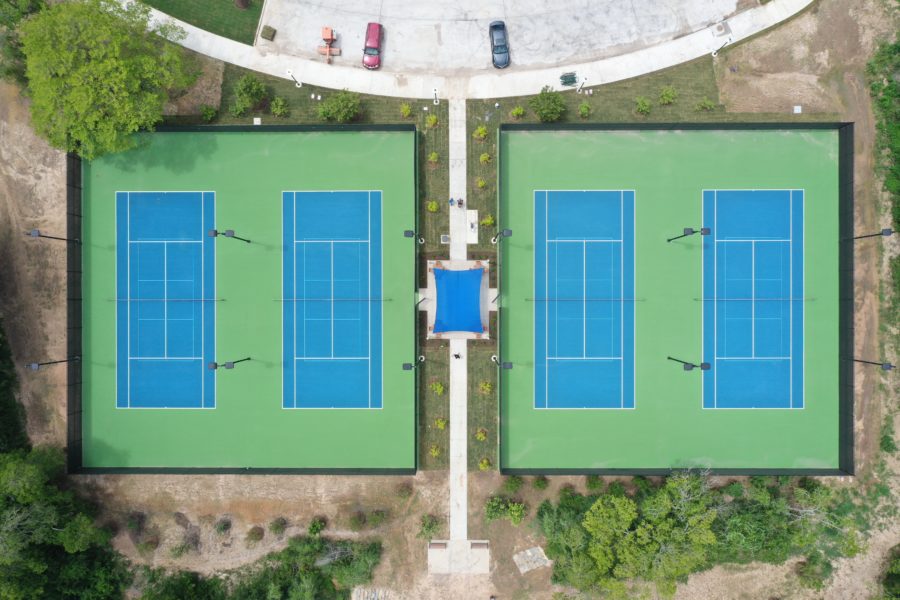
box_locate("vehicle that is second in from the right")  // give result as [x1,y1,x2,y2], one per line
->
[360,20,382,69]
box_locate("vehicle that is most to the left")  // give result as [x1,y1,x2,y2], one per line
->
[315,24,339,65]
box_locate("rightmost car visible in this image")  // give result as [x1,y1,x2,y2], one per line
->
[490,20,512,69]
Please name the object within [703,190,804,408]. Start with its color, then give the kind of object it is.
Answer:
blue tennis court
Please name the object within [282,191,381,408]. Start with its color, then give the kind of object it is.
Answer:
blue tennis court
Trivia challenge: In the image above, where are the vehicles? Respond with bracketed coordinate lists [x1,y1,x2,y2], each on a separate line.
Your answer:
[490,20,512,69]
[315,24,339,65]
[360,20,382,69]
